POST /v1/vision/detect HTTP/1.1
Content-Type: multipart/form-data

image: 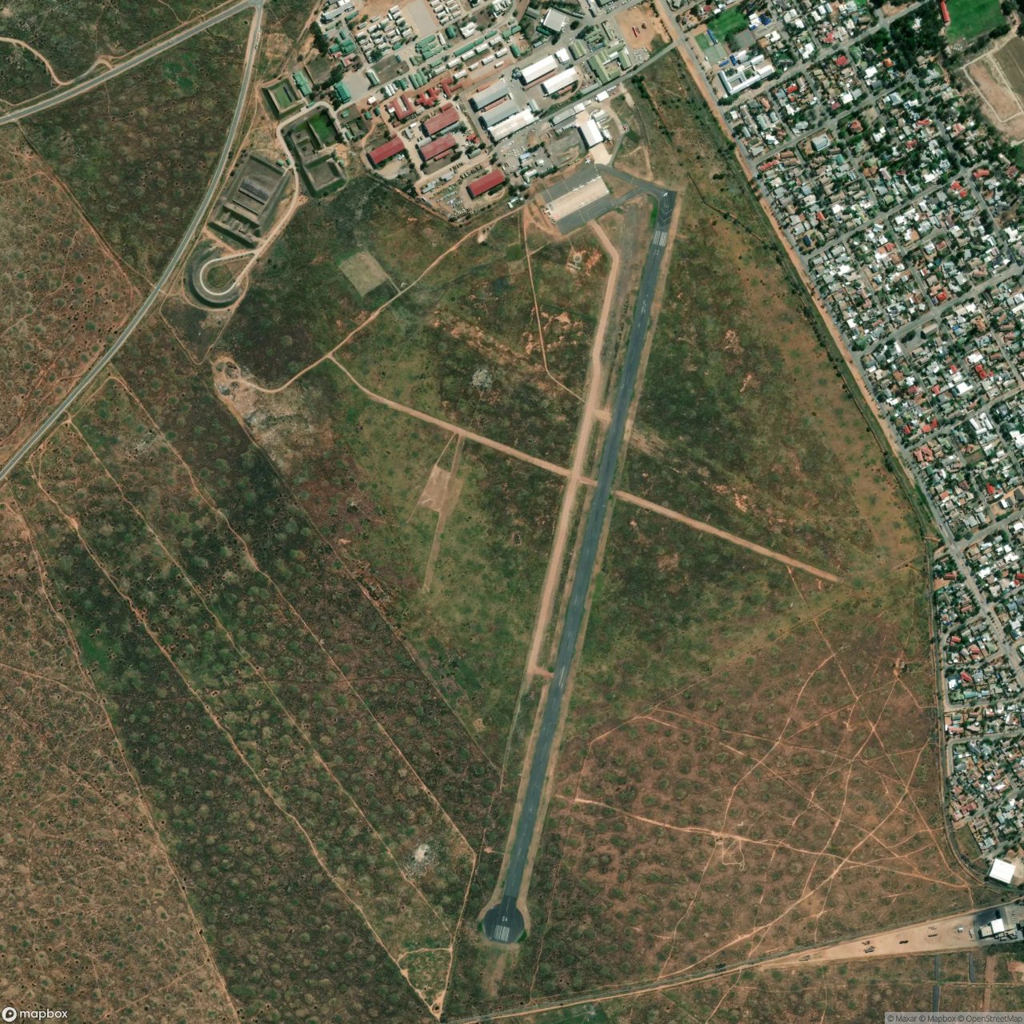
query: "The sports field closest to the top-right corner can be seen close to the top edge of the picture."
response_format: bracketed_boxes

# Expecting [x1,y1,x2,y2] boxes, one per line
[948,0,1005,46]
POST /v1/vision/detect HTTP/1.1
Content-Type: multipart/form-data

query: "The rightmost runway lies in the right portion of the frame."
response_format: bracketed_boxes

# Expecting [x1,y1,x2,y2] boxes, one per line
[613,490,838,584]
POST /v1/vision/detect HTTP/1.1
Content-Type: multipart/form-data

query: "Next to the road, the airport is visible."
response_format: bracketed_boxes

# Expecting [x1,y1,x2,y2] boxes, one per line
[327,111,838,993]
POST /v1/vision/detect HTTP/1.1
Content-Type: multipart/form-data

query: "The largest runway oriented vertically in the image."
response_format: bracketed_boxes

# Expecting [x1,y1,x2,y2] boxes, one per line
[484,188,677,944]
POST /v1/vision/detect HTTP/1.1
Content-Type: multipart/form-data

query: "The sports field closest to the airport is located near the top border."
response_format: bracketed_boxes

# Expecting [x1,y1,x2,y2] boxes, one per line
[709,6,749,44]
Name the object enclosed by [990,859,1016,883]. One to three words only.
building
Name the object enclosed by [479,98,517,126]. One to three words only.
building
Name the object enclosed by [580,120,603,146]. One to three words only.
hangar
